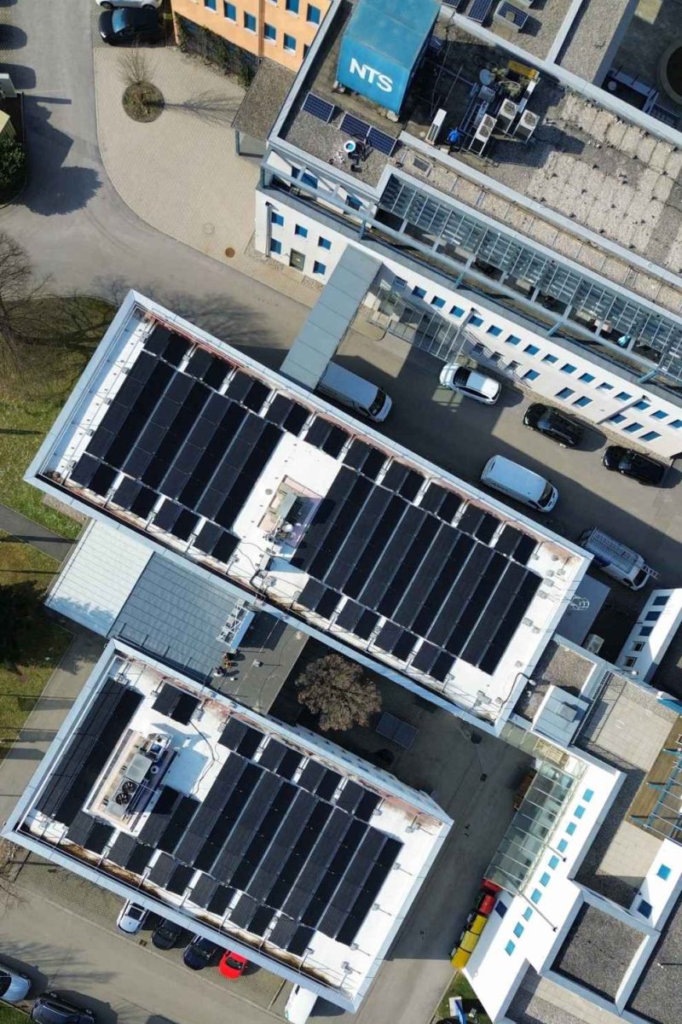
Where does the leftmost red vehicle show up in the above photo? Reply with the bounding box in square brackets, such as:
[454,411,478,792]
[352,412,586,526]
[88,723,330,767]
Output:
[220,949,254,981]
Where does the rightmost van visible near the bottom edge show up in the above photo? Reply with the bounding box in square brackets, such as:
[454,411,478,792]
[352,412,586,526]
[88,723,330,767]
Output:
[276,981,324,1024]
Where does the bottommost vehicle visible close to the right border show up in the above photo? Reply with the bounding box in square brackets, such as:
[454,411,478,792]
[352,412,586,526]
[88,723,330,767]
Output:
[576,530,665,592]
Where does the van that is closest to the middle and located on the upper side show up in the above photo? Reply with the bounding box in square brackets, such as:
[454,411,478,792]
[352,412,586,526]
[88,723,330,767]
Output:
[318,363,390,421]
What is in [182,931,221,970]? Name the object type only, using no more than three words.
car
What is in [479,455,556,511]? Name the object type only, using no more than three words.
van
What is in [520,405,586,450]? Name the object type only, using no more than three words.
car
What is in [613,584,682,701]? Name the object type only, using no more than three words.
building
